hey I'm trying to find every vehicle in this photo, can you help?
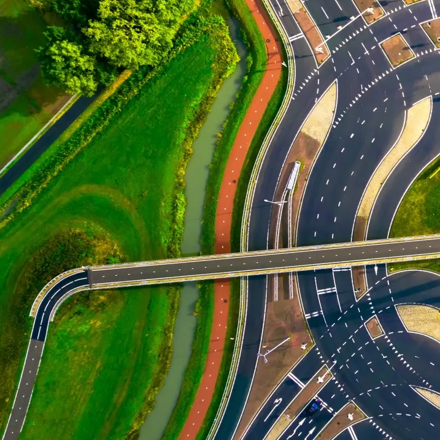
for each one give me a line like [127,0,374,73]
[305,397,321,415]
